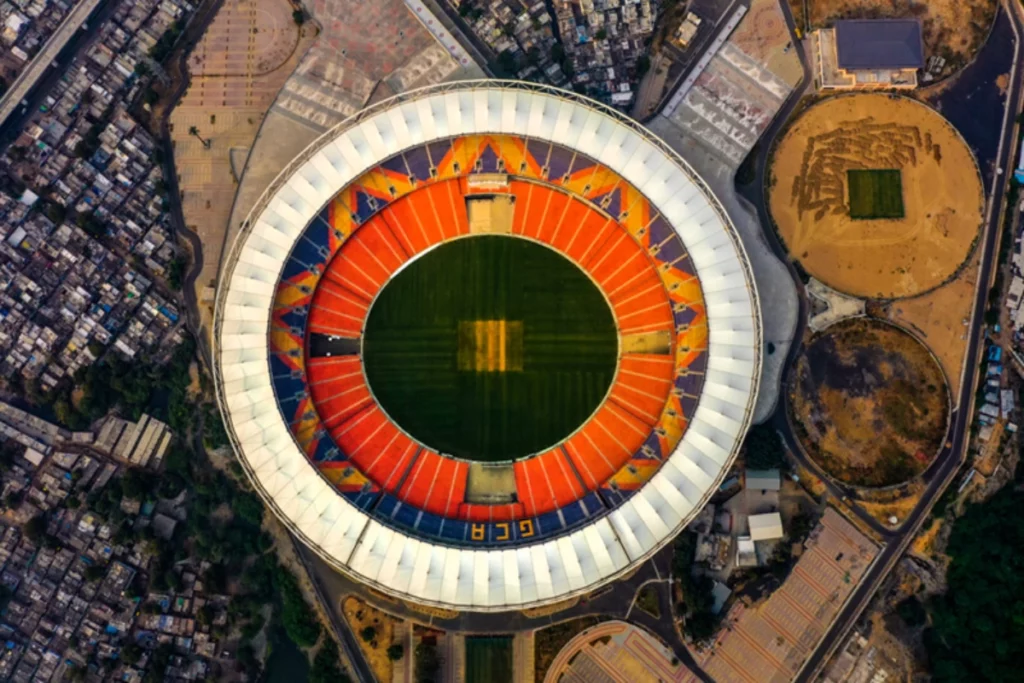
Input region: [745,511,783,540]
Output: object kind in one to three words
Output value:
shed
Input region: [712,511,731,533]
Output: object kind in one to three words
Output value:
building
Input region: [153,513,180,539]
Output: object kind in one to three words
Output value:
barn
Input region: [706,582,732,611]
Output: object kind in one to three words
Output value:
house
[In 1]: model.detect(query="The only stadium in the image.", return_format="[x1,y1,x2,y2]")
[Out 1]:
[212,79,763,612]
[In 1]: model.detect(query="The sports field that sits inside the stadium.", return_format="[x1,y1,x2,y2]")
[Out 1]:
[363,237,618,461]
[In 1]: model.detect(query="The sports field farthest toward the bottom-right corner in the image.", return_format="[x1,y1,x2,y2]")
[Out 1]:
[789,317,950,488]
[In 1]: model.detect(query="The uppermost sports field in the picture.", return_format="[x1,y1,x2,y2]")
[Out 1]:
[770,94,983,297]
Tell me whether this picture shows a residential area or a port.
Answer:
residential area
